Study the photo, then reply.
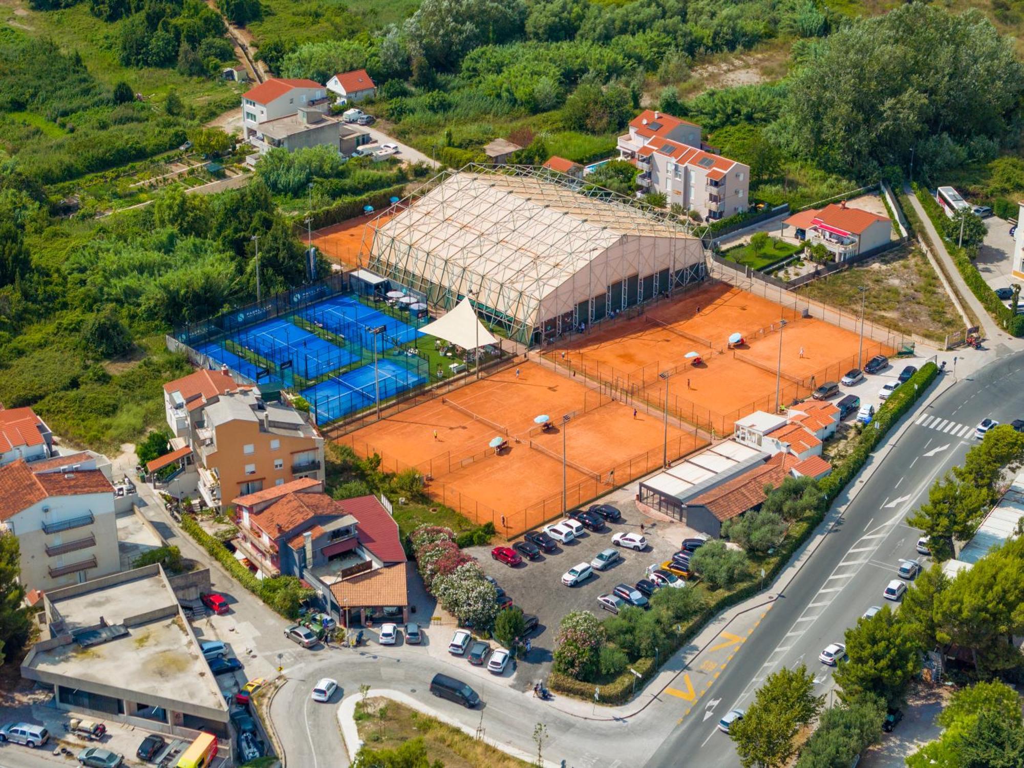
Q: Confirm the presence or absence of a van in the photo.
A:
Yes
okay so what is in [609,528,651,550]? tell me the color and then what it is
white car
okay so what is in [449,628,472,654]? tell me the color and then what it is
white car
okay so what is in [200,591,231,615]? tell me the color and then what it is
red car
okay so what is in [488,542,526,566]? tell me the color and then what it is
red car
